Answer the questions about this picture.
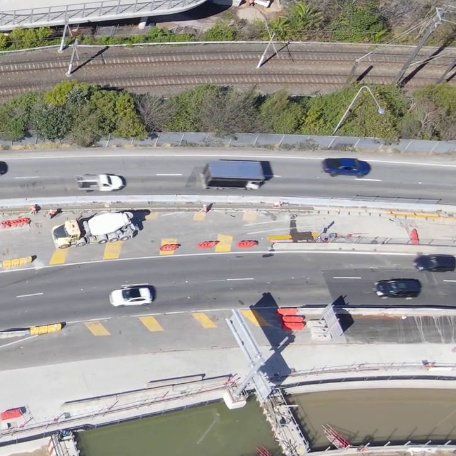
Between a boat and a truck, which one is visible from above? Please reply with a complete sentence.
There is a truck in the scene.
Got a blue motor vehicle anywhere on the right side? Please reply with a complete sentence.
Yes, a blue motor vehicle appears on the right side.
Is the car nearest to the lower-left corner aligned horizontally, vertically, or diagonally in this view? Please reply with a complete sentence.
In this picture, the car nearest to the lower-left corner is oriented horizontally.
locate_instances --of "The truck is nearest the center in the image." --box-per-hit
[202,158,270,190]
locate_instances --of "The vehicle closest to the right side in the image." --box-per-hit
[408,253,456,277]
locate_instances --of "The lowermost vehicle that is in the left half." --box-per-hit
[107,284,158,311]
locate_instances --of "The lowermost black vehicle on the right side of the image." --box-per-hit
[372,278,426,303]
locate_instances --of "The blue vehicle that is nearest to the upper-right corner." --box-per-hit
[321,156,373,178]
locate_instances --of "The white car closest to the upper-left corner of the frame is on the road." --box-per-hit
[76,171,126,194]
